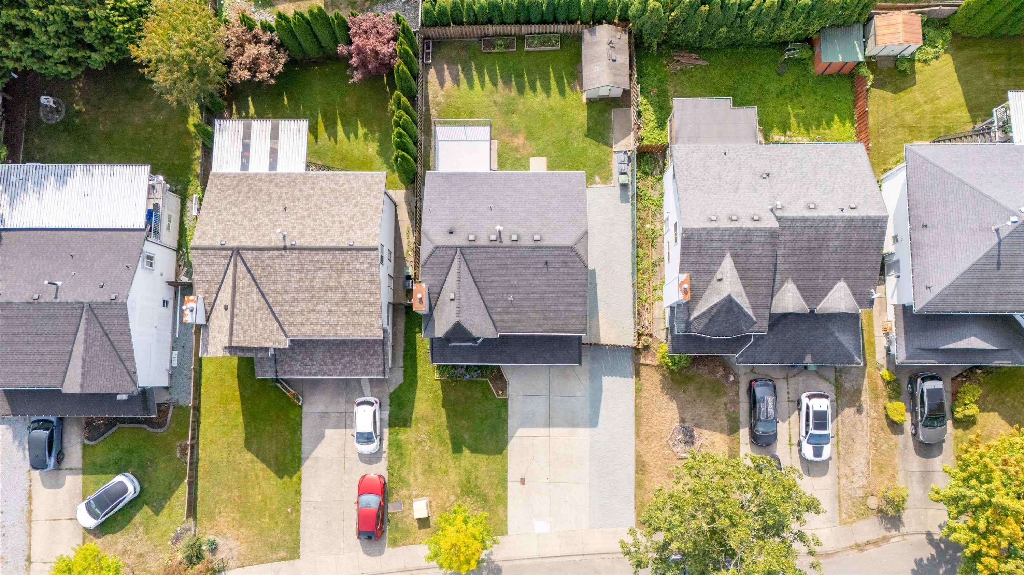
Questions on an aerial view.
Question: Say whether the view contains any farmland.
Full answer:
No, there's no farmland in this view.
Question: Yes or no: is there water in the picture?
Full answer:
No, no water is visible.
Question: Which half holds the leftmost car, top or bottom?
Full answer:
You can find the leftmost car in the bottom half.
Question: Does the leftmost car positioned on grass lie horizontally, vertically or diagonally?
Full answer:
In this picture, the leftmost car positioned on grass lies diagonally.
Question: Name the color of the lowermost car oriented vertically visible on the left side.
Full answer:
In this view, the lowermost car oriented vertically visible on the left side is red.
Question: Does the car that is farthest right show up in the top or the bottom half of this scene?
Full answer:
The bottom half of the photo is where the car that is farthest right is.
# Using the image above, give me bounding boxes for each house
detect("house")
[881,90,1024,367]
[0,164,180,419]
[662,95,886,367]
[412,119,590,367]
[180,118,397,380]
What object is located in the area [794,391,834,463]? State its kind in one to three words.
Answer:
car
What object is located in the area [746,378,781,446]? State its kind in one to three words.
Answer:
car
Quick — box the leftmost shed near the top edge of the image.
[579,25,632,102]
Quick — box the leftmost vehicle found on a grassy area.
[79,472,145,527]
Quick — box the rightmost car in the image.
[909,372,953,444]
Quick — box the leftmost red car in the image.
[355,472,389,542]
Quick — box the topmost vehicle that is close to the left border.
[25,419,65,473]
